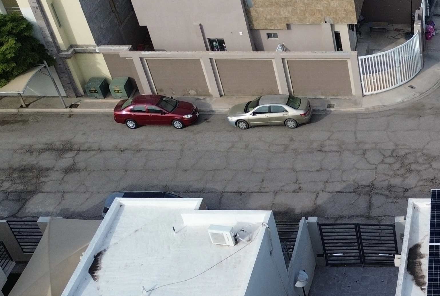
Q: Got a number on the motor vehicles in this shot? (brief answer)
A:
3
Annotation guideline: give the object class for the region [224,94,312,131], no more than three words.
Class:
car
